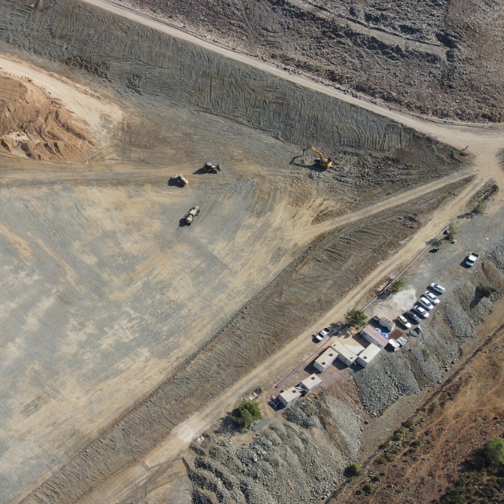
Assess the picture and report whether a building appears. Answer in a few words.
Yes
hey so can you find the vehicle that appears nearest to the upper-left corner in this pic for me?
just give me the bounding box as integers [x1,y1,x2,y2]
[172,172,192,187]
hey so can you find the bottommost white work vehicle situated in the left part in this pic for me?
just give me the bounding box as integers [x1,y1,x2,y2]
[186,204,202,224]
